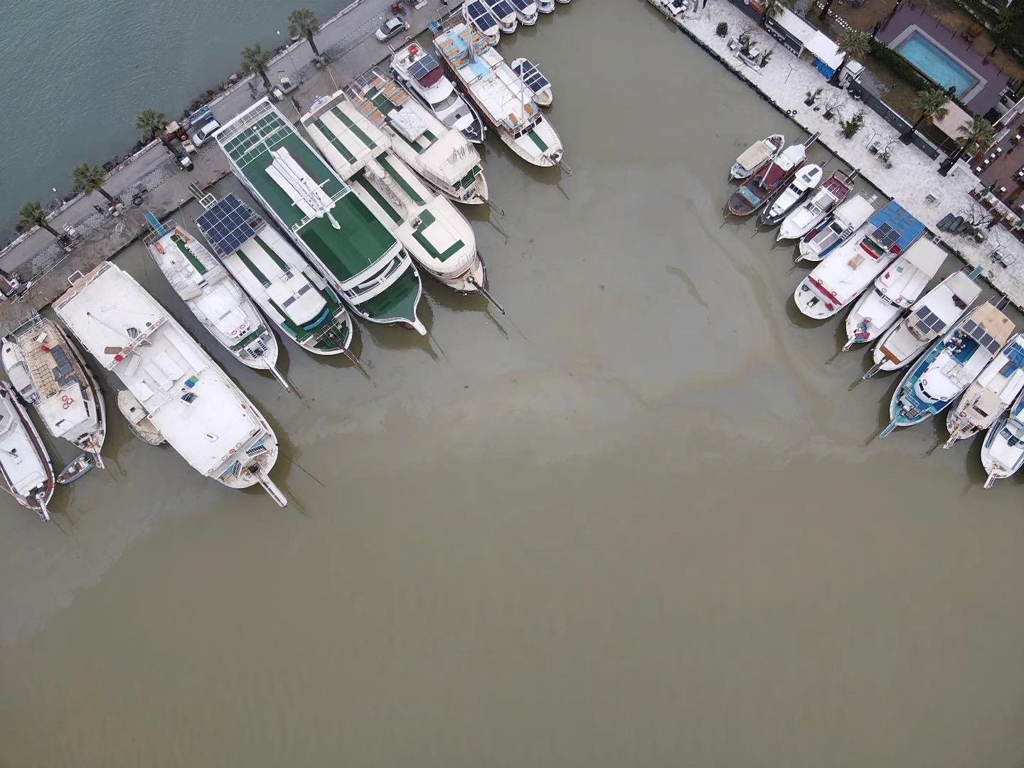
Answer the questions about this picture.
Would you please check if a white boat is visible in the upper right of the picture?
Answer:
Yes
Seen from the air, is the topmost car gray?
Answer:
Yes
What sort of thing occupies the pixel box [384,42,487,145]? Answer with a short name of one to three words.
boat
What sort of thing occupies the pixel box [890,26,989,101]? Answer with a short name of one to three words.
swimming pool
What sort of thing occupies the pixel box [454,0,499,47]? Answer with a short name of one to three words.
boat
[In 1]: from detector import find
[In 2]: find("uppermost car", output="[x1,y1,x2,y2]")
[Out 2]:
[376,13,408,41]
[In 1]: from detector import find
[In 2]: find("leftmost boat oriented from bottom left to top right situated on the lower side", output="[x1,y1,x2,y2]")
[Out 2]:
[56,452,102,485]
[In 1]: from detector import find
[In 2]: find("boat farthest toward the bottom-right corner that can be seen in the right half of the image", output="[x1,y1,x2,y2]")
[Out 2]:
[979,393,1024,489]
